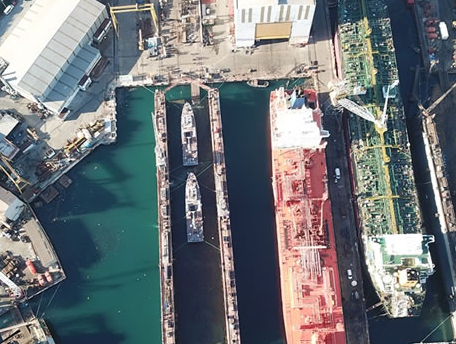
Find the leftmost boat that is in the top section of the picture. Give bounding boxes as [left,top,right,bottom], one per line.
[180,102,198,169]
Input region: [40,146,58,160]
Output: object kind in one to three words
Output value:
vehicle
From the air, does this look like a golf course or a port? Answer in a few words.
port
